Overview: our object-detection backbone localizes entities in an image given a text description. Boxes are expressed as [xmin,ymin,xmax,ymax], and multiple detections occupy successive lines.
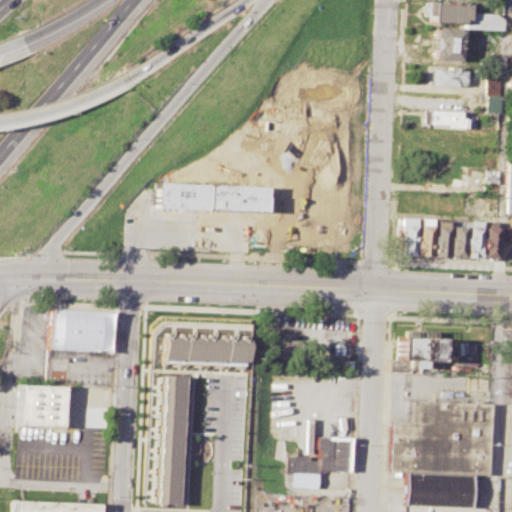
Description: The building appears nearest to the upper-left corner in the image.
[153,184,216,212]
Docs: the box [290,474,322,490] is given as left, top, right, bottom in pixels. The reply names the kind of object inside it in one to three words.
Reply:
shed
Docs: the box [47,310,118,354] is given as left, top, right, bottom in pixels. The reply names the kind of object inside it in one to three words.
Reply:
building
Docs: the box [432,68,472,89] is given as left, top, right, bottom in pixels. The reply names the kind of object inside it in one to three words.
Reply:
house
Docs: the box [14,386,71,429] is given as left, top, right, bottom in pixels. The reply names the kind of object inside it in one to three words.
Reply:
building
